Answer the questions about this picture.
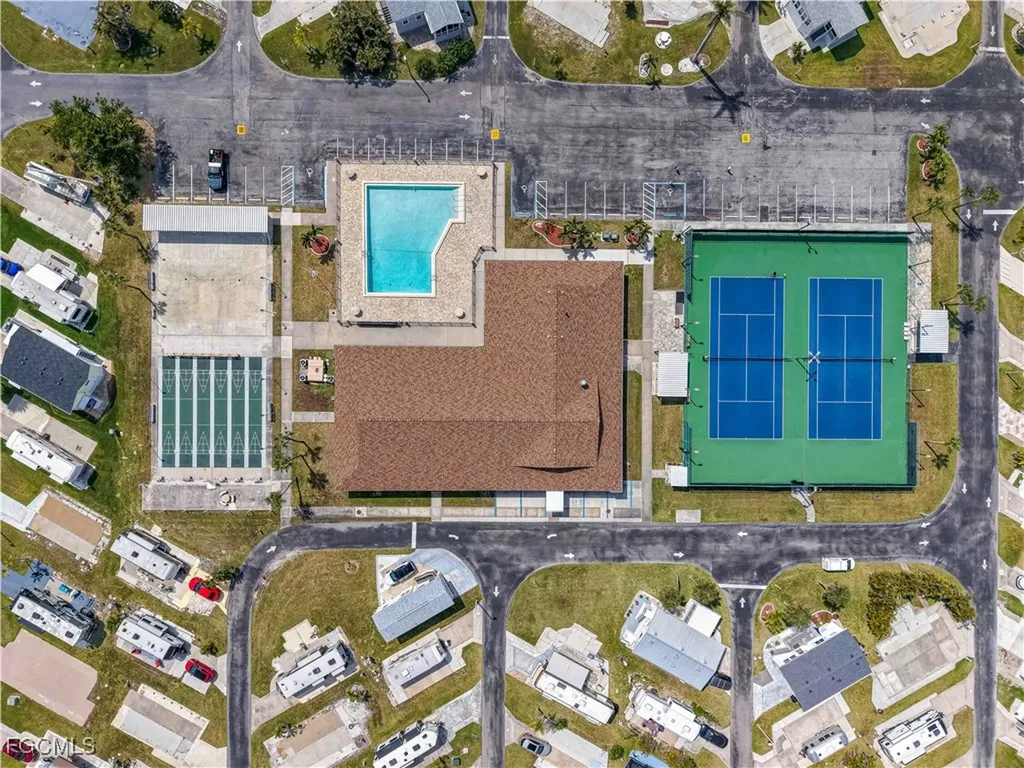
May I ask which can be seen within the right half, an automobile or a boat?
automobile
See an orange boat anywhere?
No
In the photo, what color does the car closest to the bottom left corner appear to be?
red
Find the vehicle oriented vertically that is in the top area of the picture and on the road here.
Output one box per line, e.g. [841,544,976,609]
[207,150,225,192]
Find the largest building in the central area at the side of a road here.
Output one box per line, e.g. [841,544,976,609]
[334,262,623,491]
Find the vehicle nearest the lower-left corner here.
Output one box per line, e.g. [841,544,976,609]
[3,738,38,763]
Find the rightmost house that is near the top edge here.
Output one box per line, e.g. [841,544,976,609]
[815,0,869,46]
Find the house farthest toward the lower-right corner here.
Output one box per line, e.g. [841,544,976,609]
[770,615,872,711]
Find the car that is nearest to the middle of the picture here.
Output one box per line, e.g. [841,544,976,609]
[386,559,419,585]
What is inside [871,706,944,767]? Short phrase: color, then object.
white trailer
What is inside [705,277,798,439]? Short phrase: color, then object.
blue tennis court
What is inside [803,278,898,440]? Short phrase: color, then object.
blue tennis court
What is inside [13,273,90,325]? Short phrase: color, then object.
white camper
